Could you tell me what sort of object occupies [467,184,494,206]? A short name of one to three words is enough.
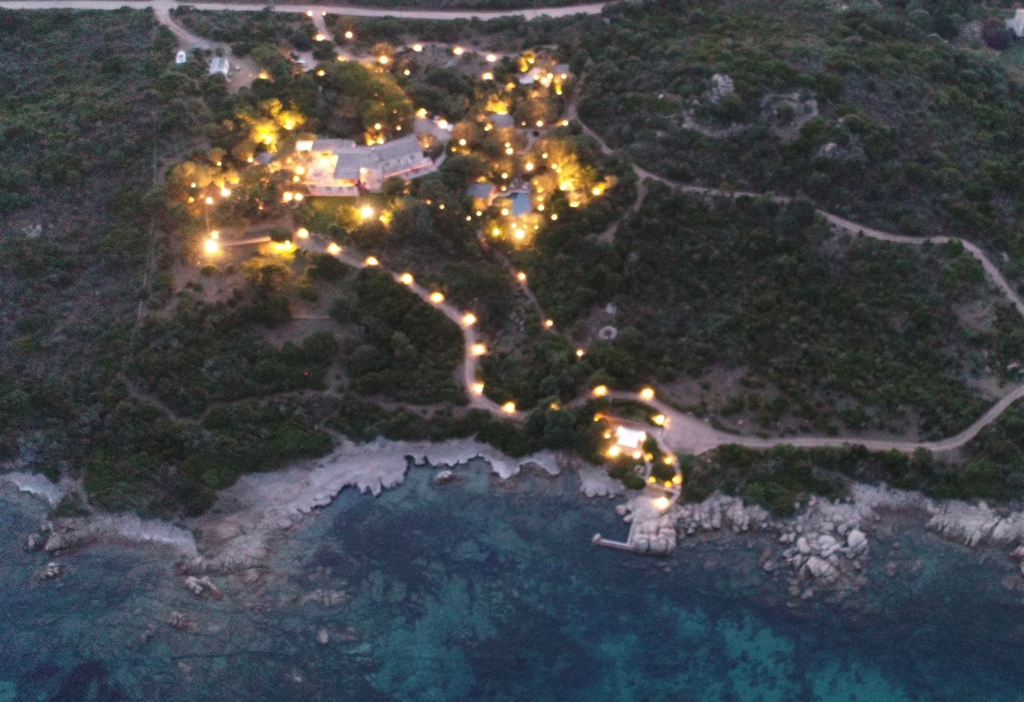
shed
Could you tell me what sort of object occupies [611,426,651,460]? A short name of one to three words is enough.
building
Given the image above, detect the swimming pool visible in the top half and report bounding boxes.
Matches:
[509,192,533,225]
